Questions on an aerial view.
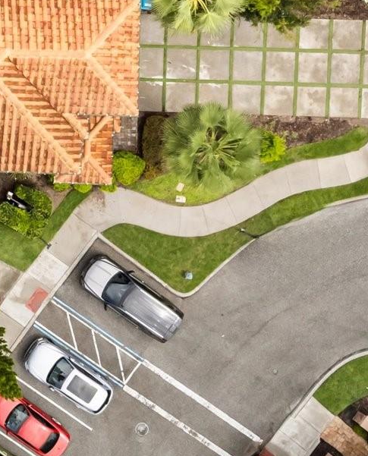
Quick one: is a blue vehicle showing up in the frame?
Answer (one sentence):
No, I can see no blue vehicle in this picture.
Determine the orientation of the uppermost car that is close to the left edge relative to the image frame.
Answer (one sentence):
In this picture, the uppermost car that is close to the left edge is oriented on a diagonal.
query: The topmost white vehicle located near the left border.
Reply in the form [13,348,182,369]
[17,329,114,417]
